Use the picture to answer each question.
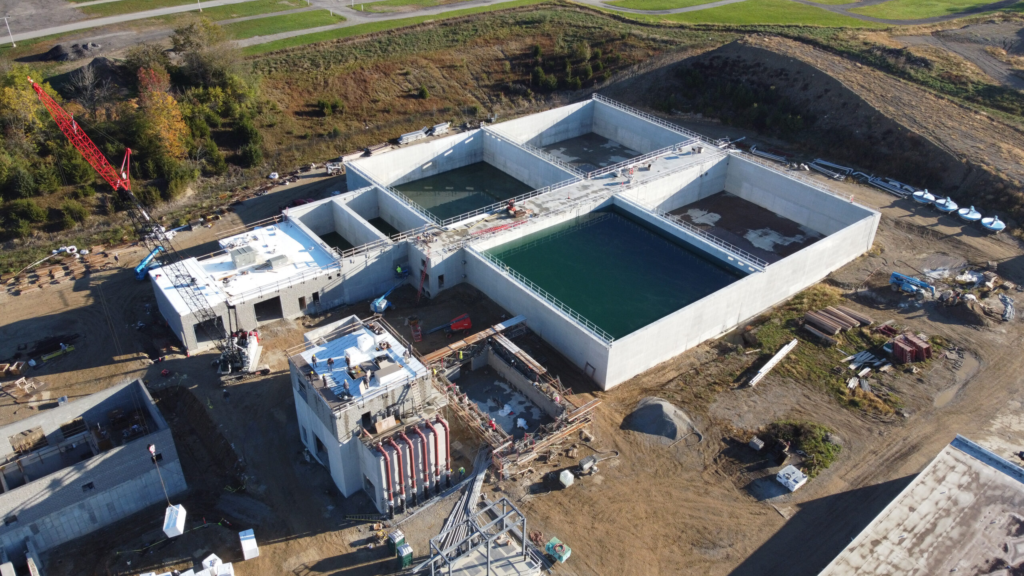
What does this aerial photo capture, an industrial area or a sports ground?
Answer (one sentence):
It's an industrial area.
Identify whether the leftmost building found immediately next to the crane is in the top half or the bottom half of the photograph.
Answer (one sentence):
The leftmost building found immediately next to the crane sits in the bottom half of the picture.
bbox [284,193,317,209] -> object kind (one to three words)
vehicle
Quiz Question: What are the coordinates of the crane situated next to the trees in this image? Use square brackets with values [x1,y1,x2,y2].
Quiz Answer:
[21,74,274,464]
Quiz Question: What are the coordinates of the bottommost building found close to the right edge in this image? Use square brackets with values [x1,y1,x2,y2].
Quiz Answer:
[801,430,1024,576]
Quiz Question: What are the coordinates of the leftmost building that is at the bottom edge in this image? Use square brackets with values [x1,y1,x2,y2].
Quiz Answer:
[0,379,190,569]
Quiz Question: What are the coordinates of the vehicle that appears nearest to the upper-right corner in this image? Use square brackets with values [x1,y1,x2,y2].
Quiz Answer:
[892,269,946,305]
